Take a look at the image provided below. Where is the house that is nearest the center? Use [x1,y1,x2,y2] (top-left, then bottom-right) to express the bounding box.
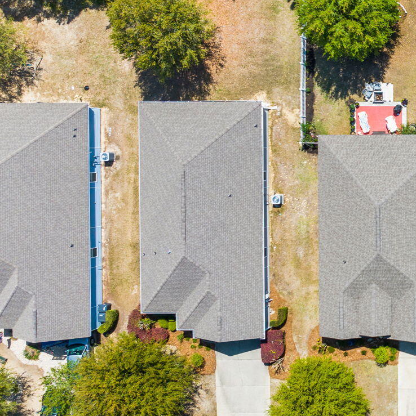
[139,100,269,342]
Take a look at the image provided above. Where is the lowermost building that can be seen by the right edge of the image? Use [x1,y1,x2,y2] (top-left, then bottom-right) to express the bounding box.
[319,135,416,343]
